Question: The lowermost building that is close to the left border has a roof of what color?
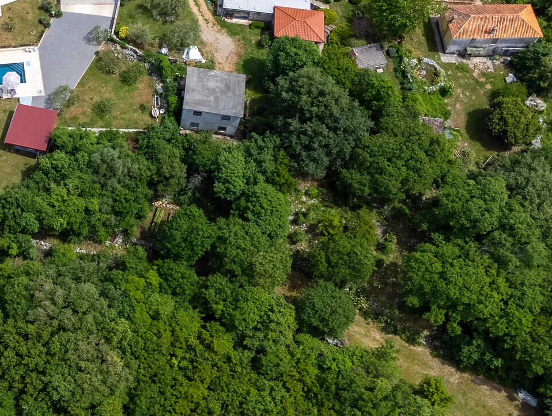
red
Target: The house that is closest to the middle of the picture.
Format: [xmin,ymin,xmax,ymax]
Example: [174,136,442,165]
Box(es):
[180,67,245,141]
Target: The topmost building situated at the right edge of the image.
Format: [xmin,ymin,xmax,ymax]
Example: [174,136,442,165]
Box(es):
[430,3,544,65]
